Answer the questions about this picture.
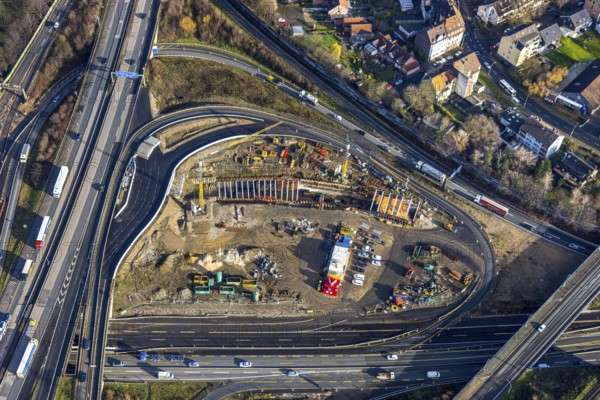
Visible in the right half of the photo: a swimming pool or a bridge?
bridge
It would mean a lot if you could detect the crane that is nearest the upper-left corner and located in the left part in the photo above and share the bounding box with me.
[178,121,283,217]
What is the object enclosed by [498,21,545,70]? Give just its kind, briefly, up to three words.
building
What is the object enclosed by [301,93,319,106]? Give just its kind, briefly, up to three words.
vehicle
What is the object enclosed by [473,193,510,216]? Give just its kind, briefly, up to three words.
truck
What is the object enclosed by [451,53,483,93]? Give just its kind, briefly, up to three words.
house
